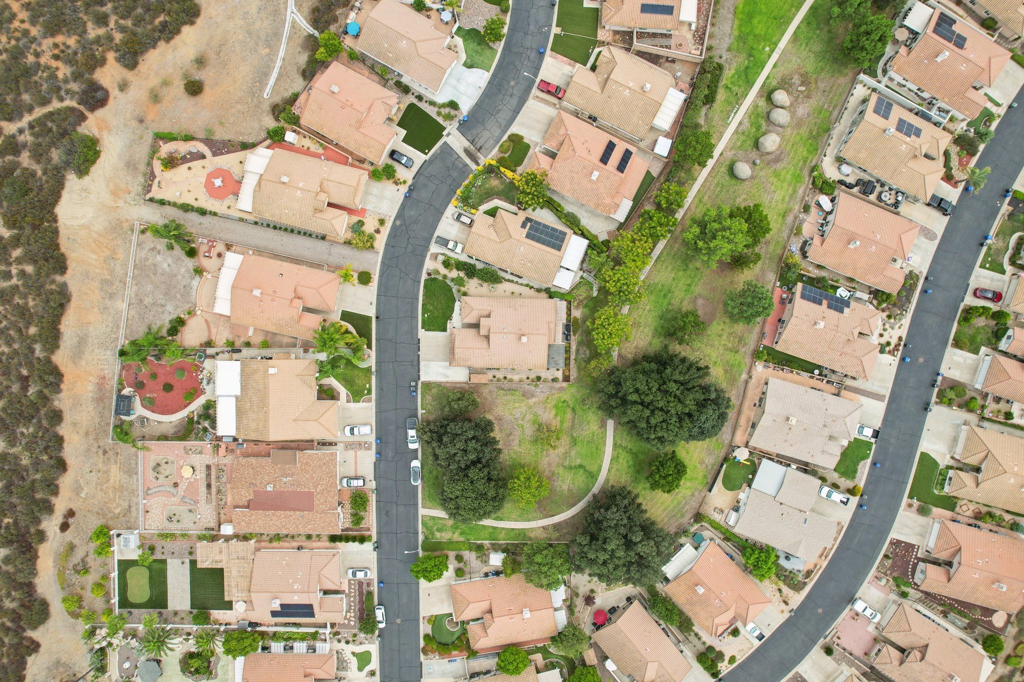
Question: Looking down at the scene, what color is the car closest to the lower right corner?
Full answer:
In this view, the car closest to the lower right corner is white.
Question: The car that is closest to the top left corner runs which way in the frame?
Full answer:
In this picture, the car that is closest to the top left corner is oriented diagonally.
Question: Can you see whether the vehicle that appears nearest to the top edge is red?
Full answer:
Yes, the vehicle that appears nearest to the top edge is red.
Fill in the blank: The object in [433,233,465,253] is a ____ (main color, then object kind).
white vehicle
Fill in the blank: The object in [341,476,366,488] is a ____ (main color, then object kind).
white vehicle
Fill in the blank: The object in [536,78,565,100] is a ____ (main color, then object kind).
red vehicle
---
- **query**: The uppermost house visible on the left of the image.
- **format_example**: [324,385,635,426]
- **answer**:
[357,0,458,97]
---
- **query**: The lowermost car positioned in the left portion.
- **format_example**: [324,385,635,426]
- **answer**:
[374,605,386,628]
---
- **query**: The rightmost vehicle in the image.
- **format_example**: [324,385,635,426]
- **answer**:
[972,288,1003,302]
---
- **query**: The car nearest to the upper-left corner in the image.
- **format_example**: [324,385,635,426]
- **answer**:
[389,149,414,169]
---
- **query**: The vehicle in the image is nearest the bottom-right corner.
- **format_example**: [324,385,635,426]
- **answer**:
[850,597,884,624]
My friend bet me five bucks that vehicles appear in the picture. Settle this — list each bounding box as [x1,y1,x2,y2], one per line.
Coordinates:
[406,417,417,449]
[344,424,372,437]
[452,211,475,227]
[374,605,386,628]
[341,476,366,488]
[433,233,465,253]
[856,424,883,441]
[850,597,884,624]
[409,459,421,485]
[818,485,852,507]
[536,78,565,100]
[928,193,958,215]
[972,288,1003,302]
[389,149,414,169]
[744,622,768,644]
[347,567,371,580]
